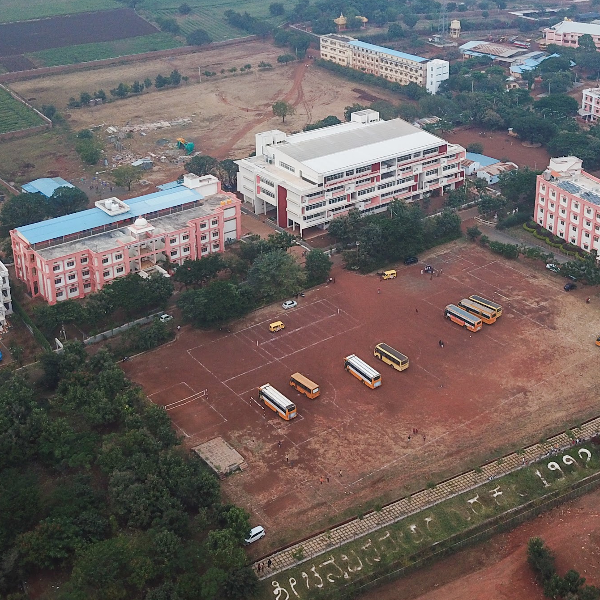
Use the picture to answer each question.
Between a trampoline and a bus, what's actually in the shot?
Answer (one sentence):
This aerial view contains a bus.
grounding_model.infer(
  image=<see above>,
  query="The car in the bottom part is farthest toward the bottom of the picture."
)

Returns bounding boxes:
[247,523,266,542]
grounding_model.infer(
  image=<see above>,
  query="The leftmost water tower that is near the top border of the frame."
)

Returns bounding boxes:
[448,11,463,38]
